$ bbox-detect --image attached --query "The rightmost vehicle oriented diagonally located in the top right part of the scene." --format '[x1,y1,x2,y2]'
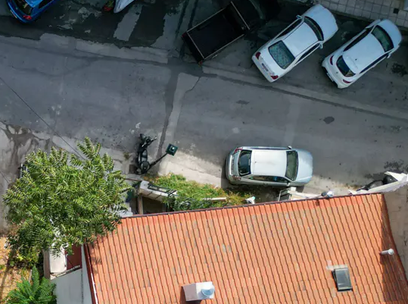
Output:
[311,18,399,97]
